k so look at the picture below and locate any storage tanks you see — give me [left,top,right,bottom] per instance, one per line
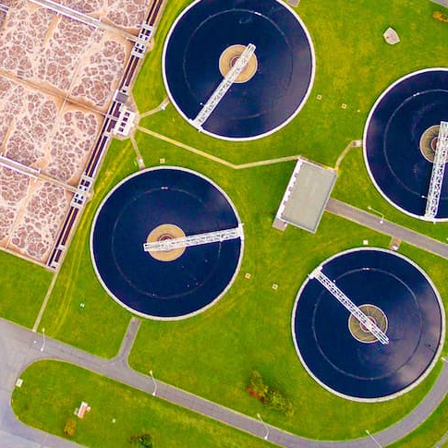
[161,0,316,141]
[89,165,244,320]
[361,69,448,222]
[290,247,446,402]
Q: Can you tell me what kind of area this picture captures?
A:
industrial area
